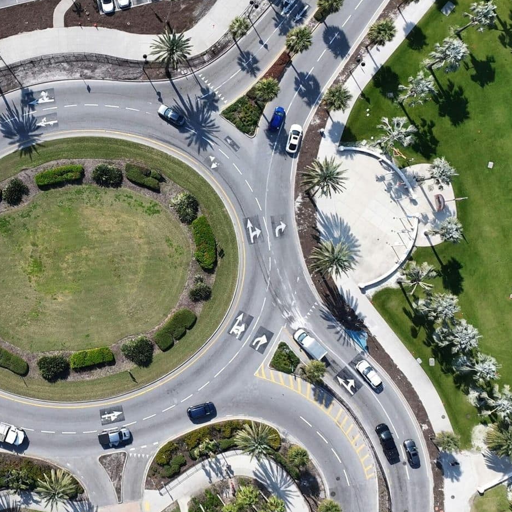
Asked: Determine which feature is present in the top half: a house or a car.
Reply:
car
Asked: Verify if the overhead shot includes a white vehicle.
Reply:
Yes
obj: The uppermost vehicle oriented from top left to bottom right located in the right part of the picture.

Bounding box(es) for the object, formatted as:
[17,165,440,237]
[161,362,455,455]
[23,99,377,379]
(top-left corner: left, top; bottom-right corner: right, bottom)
[293,327,331,365]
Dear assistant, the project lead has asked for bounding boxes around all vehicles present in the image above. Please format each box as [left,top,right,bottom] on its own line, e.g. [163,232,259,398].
[375,424,397,464]
[401,436,420,469]
[157,104,187,127]
[284,123,302,155]
[98,429,131,445]
[117,0,129,10]
[268,106,283,133]
[0,420,28,444]
[356,359,382,390]
[99,0,114,16]
[293,327,331,365]
[185,403,216,420]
